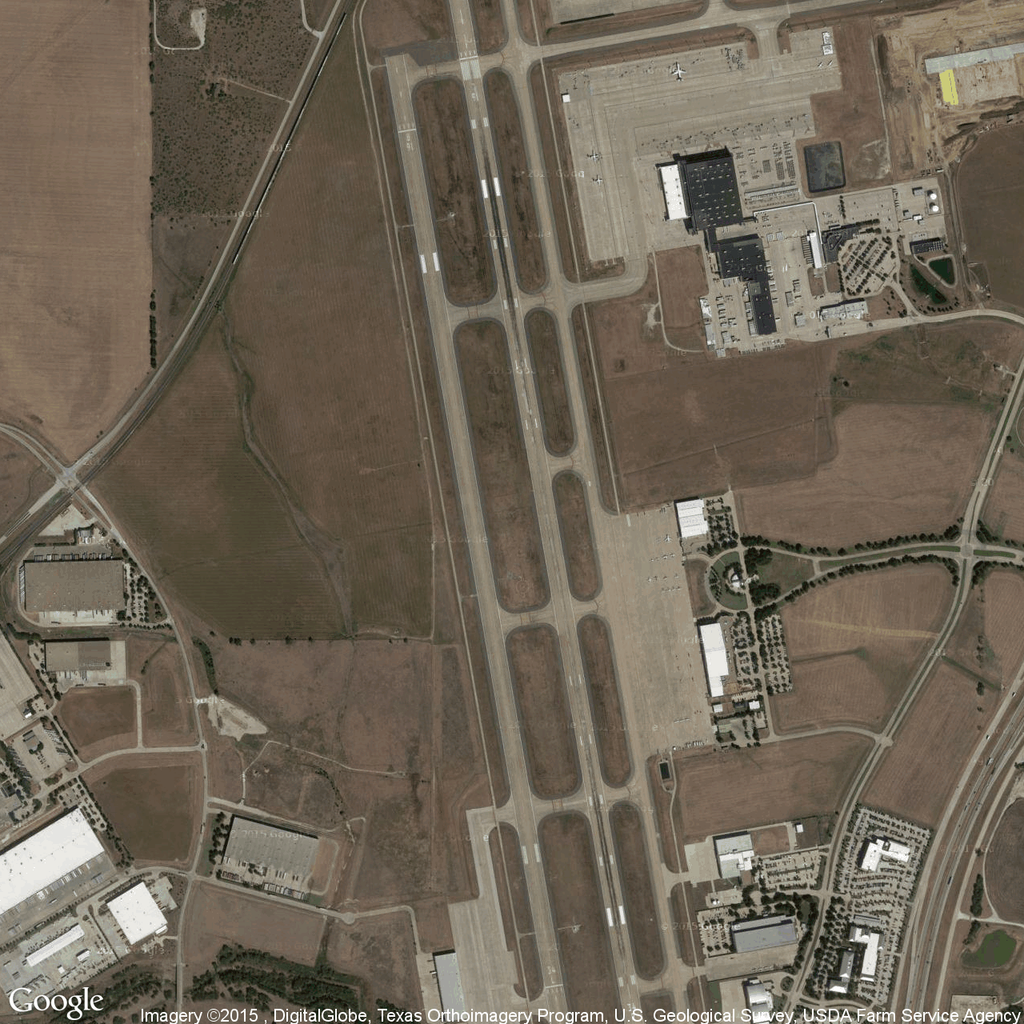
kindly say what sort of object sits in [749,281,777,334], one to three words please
building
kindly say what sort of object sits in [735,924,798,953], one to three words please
hangar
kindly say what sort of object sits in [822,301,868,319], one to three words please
shed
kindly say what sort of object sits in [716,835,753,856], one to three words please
hangar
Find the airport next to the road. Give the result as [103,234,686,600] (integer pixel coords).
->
[379,0,946,1024]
